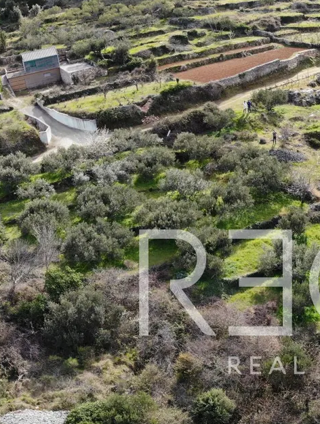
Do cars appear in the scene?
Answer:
No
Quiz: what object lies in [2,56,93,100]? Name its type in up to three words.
shed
